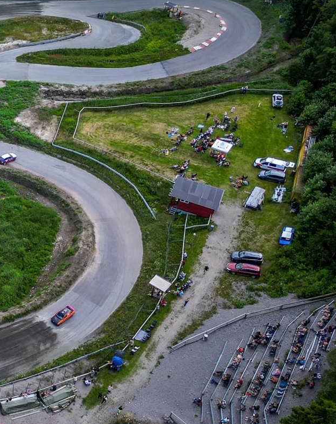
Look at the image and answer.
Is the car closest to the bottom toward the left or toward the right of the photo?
left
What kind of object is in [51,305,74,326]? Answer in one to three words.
car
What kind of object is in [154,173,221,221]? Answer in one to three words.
building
